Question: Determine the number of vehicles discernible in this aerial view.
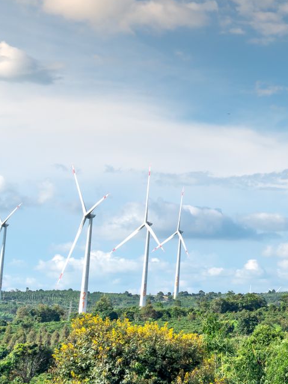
0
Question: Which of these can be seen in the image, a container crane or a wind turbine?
wind turbine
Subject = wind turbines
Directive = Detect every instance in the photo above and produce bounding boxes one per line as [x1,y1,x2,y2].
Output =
[113,163,166,307]
[0,203,22,300]
[60,167,110,311]
[152,188,189,298]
